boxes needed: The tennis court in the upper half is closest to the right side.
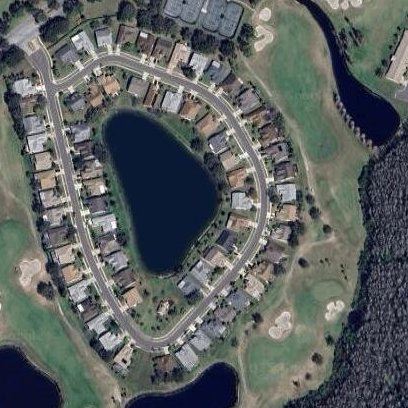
[220,0,247,38]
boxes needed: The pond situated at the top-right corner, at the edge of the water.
[298,0,399,144]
